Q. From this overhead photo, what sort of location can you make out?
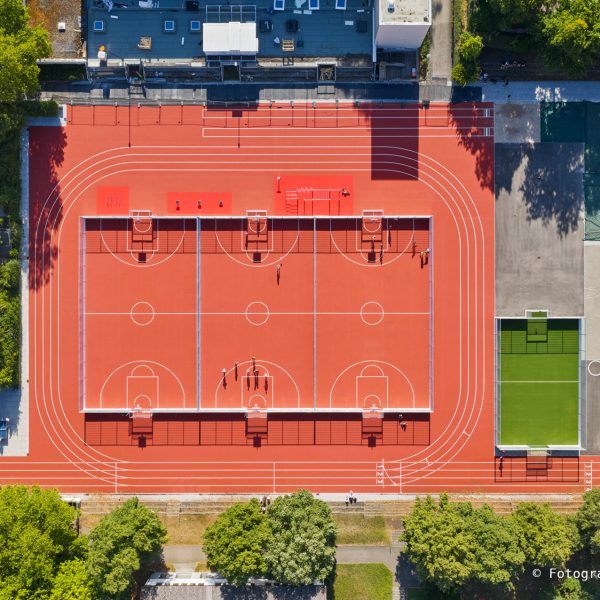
sports ground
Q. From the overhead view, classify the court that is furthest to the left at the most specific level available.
basketball court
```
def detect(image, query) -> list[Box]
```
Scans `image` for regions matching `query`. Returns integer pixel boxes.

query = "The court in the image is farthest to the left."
[86,218,197,410]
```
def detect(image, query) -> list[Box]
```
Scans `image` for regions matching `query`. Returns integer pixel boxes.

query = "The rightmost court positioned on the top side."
[540,102,600,241]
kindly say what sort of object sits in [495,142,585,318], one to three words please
sports court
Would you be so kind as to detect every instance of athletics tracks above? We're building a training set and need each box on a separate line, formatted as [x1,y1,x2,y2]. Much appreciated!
[0,103,600,494]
